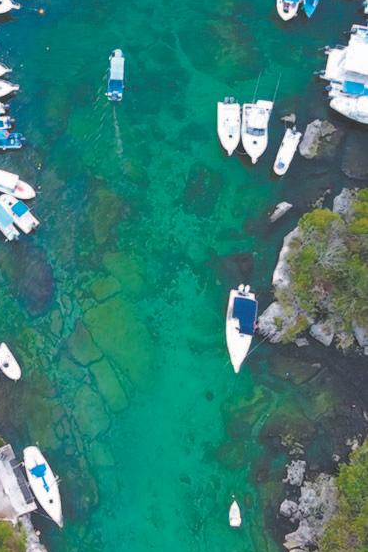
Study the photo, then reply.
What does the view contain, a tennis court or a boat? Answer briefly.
boat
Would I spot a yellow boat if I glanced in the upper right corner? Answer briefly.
No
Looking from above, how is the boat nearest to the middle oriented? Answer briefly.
up and down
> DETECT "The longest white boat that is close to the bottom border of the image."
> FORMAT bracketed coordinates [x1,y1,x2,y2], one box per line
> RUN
[21,446,63,528]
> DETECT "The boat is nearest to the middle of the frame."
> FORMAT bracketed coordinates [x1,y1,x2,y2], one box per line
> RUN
[222,284,259,380]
